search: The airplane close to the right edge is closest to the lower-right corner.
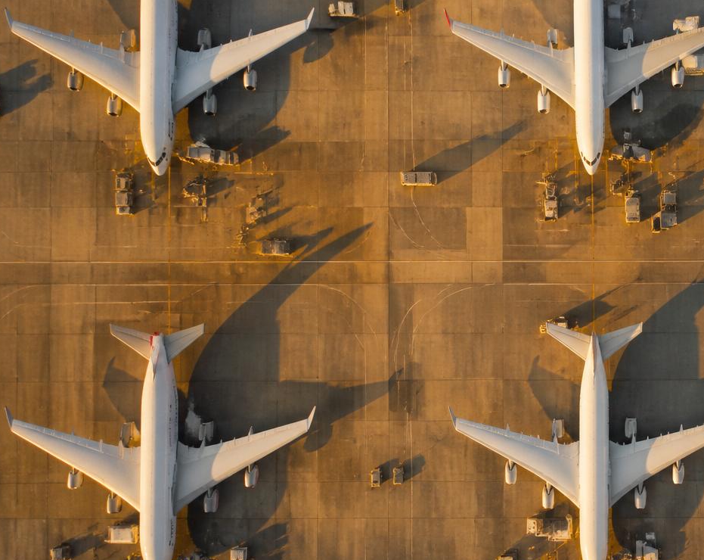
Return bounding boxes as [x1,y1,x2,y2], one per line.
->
[448,325,704,560]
